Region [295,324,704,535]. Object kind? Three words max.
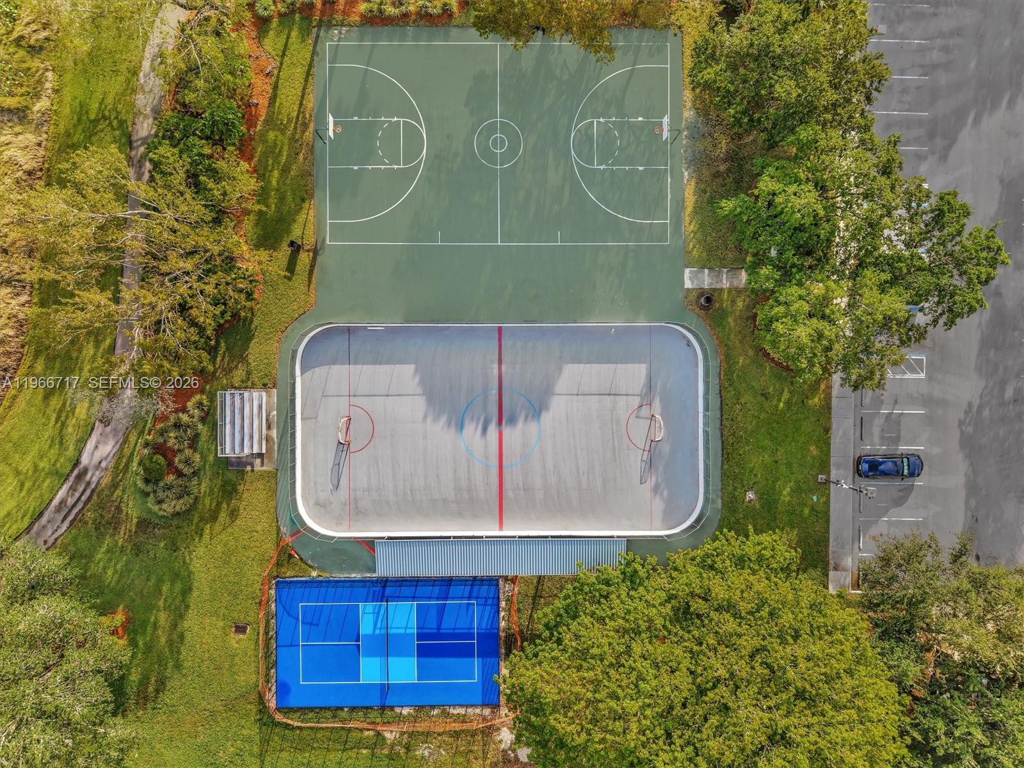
sports court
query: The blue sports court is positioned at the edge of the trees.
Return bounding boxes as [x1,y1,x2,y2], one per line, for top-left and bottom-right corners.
[276,579,499,708]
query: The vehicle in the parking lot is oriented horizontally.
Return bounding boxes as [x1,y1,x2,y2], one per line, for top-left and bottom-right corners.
[853,452,921,481]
